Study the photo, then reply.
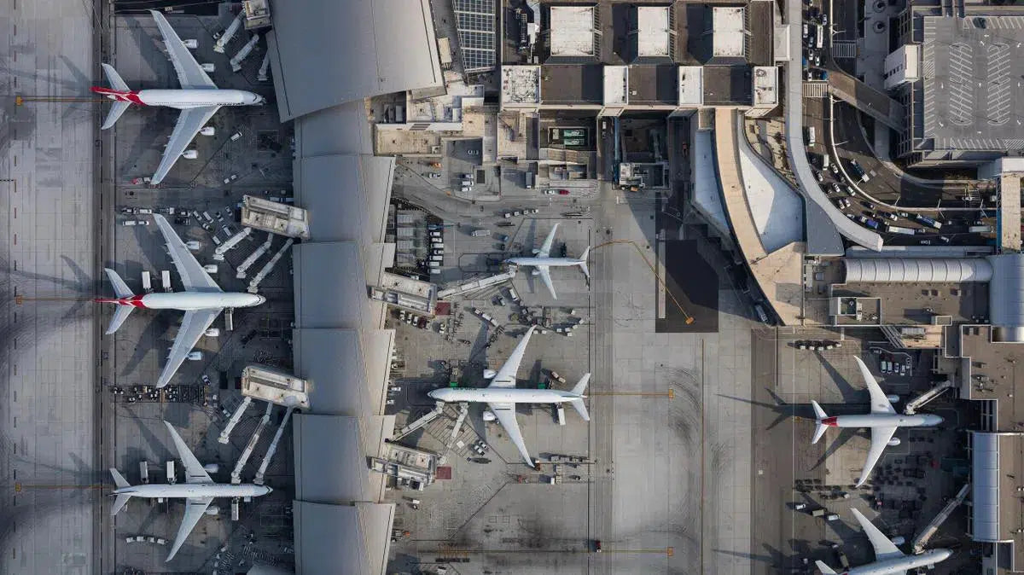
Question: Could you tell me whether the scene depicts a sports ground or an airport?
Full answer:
The picture captures an airport.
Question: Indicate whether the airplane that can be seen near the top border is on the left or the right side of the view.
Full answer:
It is on the left.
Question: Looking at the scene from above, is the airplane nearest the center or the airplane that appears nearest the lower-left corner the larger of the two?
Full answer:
Of the two, the airplane that appears nearest the lower-left corner is bigger, while the airplane nearest the center is smaller.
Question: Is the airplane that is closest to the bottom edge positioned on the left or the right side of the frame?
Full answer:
You can find the airplane that is closest to the bottom edge on the right side of the picture.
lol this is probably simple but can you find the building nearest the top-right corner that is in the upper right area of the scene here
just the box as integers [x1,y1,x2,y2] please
[885,0,1024,168]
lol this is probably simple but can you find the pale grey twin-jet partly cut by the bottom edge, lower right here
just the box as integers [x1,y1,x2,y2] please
[820,508,953,575]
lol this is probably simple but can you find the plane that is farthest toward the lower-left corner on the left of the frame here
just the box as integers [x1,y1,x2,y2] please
[99,421,273,563]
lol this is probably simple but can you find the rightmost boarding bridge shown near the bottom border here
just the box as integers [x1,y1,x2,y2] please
[911,480,974,555]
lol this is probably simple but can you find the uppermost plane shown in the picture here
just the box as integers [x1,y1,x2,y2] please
[90,10,267,185]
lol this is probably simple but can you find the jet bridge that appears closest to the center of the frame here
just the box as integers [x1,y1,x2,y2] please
[437,266,520,300]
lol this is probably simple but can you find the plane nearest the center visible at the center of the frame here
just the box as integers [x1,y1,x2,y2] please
[504,223,590,301]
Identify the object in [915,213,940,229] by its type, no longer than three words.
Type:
vehicle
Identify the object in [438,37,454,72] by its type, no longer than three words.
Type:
building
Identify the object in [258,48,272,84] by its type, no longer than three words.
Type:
jet bridge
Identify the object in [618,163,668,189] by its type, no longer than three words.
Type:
house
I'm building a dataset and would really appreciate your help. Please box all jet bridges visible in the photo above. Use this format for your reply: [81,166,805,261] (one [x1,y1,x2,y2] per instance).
[215,226,256,261]
[230,403,277,486]
[911,480,974,555]
[255,407,294,486]
[237,231,280,281]
[248,236,298,295]
[439,401,470,469]
[901,379,954,417]
[229,32,264,77]
[258,48,272,84]
[392,400,445,442]
[437,266,520,300]
[219,398,255,445]
[213,8,244,57]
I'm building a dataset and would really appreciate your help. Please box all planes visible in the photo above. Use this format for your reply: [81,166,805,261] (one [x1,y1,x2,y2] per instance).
[820,508,953,575]
[99,421,273,563]
[90,10,267,185]
[504,223,590,301]
[809,356,944,488]
[98,212,267,387]
[429,325,591,467]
